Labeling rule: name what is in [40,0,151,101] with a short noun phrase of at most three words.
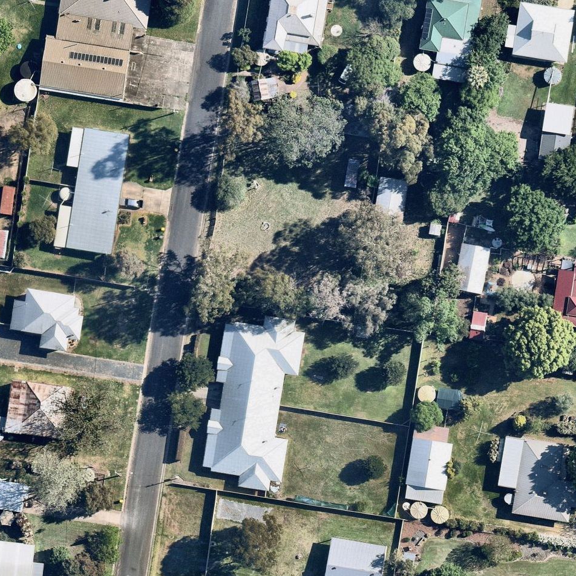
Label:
house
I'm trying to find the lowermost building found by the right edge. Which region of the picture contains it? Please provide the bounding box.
[499,437,576,523]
